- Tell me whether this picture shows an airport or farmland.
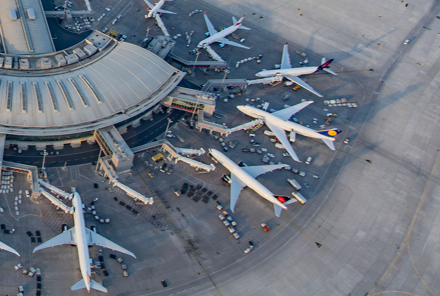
airport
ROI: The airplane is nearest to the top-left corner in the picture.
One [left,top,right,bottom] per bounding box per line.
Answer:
[145,0,176,18]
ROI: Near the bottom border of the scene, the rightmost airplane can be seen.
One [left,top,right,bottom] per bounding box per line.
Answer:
[32,190,131,286]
